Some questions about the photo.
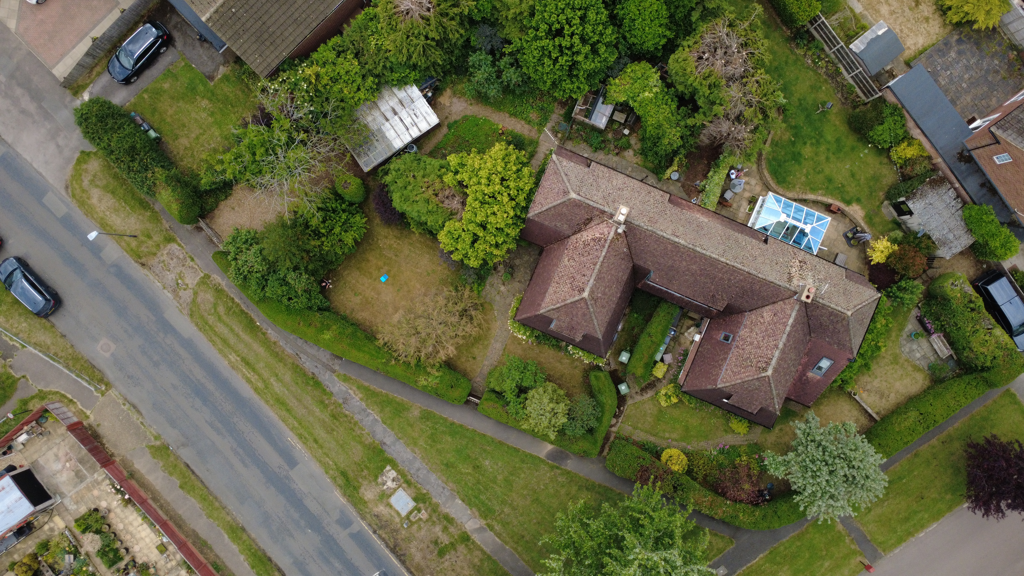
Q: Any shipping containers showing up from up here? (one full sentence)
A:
No, no shipping container can be seen from above.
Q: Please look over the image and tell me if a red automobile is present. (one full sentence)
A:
No, there isn't any red automobile down there.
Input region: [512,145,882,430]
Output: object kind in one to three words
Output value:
house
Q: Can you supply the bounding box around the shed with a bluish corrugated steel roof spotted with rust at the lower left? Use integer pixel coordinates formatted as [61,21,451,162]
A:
[0,463,62,545]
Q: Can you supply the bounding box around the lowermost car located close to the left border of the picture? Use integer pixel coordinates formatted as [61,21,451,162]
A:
[0,251,70,322]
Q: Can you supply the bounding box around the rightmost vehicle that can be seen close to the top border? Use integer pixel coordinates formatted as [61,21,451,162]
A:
[105,15,178,88]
